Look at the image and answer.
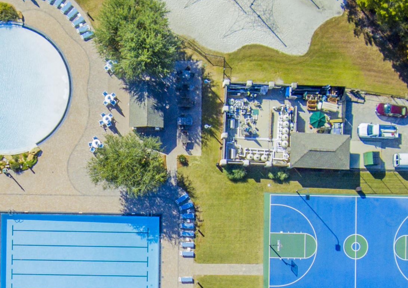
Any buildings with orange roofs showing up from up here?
No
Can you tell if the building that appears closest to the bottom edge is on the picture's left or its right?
right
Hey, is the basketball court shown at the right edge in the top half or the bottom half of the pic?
bottom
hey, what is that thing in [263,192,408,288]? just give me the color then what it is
blue basketball court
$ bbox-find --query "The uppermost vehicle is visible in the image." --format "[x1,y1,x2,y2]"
[376,101,408,118]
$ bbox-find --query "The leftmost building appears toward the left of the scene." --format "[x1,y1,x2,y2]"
[131,78,163,131]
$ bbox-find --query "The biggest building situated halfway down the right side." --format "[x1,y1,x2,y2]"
[290,133,350,168]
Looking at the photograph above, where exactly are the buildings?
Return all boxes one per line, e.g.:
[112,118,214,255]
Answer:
[131,78,163,131]
[290,133,350,168]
